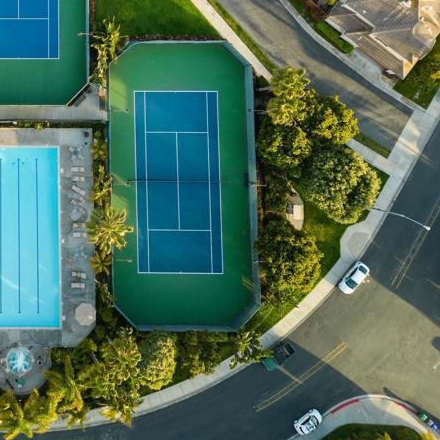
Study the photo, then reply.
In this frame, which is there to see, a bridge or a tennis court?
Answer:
tennis court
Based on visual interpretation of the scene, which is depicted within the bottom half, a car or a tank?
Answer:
car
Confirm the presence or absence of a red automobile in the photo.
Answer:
No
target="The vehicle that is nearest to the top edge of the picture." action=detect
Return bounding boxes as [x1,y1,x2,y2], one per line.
[341,261,373,295]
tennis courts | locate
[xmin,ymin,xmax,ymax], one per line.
[0,0,92,107]
[107,41,261,332]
